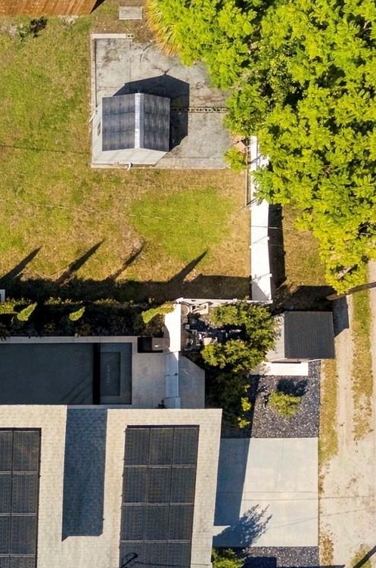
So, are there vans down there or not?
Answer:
No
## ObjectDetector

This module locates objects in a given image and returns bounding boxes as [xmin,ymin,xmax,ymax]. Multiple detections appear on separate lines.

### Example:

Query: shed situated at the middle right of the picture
[261,311,336,362]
